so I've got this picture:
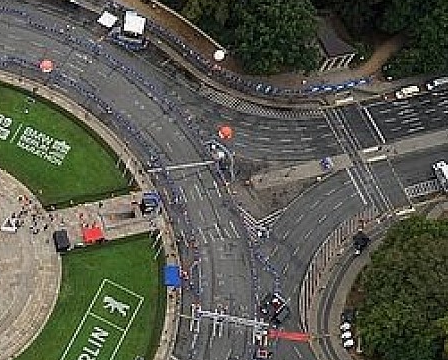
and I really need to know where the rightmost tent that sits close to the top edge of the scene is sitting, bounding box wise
[122,14,145,35]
